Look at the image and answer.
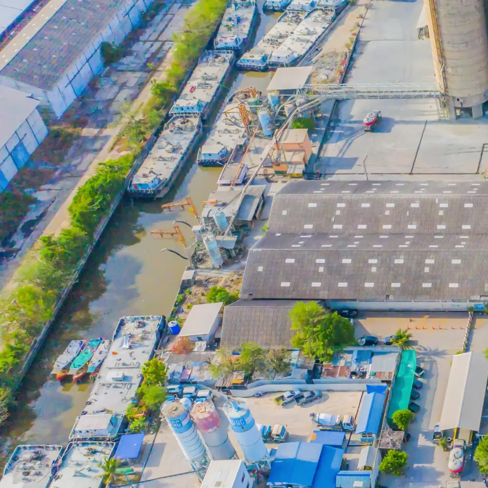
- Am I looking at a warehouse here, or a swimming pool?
warehouse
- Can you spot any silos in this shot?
Yes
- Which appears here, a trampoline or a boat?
boat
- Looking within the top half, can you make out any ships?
Yes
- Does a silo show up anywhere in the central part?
Yes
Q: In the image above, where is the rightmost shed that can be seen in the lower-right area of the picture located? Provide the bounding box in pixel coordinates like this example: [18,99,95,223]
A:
[440,352,488,446]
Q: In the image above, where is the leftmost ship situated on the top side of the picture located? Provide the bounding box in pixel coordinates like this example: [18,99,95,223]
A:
[126,115,202,200]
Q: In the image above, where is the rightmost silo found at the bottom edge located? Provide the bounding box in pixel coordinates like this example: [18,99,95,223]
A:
[222,388,277,482]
